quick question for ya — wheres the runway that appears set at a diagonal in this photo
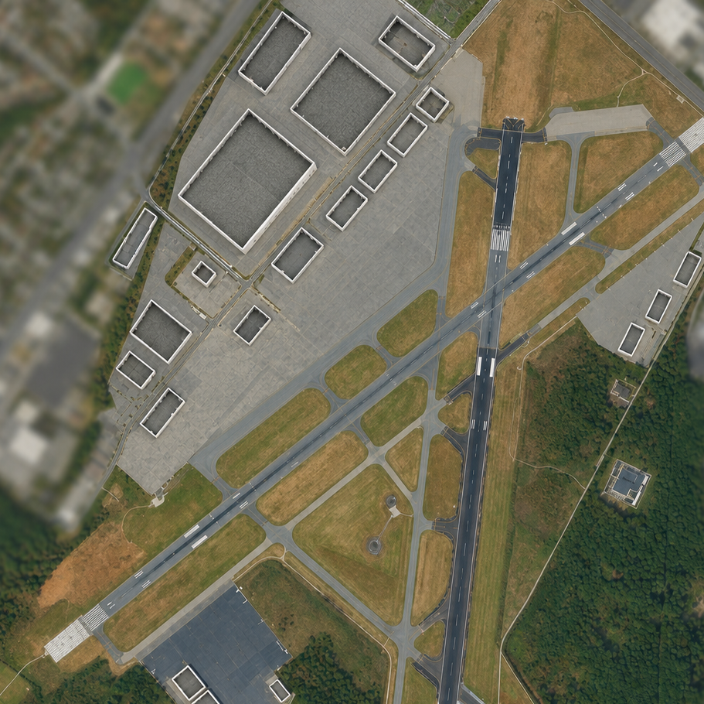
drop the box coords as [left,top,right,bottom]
[81,142,683,631]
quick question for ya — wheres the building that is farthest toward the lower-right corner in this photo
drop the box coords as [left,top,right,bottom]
[606,462,649,505]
